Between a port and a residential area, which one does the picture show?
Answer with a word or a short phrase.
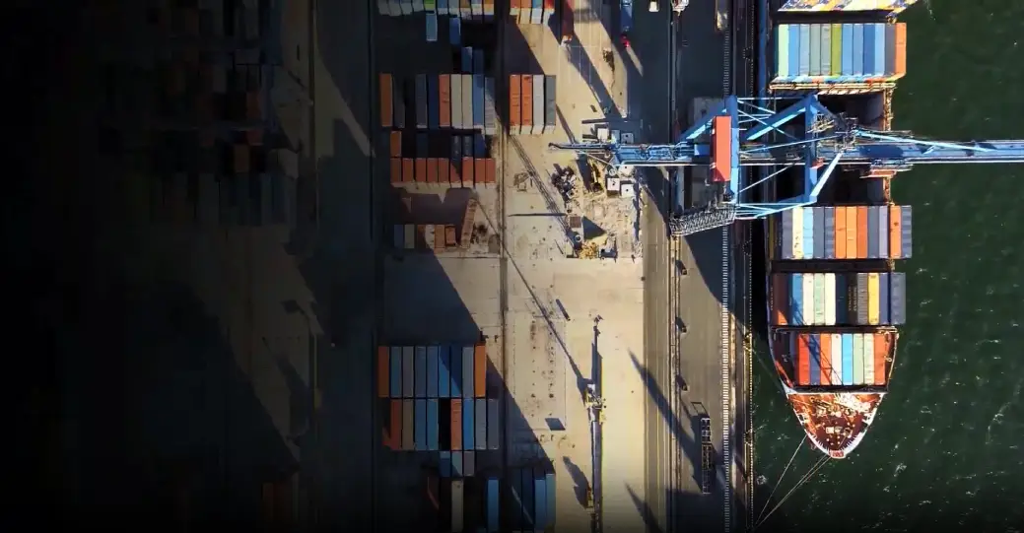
port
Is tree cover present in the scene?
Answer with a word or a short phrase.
No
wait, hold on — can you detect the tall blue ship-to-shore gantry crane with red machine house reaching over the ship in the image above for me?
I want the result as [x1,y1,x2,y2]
[552,89,1024,237]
